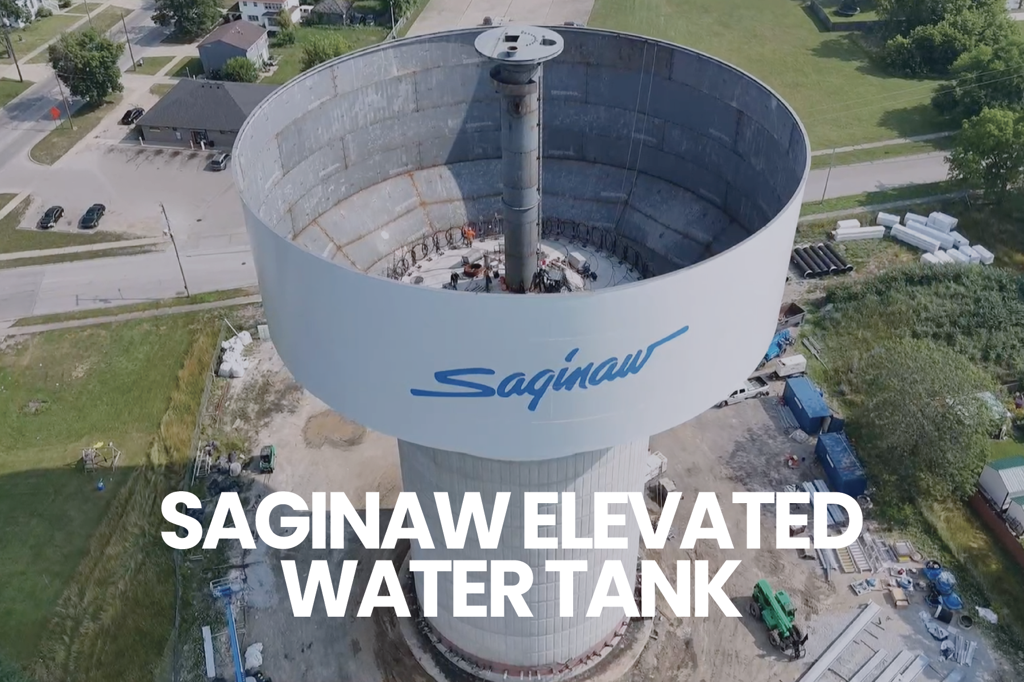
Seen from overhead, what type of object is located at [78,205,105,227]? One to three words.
car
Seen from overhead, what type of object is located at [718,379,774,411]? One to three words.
truck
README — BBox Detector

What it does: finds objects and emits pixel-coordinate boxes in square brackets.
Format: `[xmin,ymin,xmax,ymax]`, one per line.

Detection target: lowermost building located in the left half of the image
[137,76,284,147]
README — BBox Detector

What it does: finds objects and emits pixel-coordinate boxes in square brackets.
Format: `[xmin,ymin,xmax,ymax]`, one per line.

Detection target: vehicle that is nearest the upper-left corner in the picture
[121,106,145,123]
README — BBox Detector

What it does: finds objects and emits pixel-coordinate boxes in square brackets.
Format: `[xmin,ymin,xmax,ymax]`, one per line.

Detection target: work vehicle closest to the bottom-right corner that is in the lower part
[743,581,803,666]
